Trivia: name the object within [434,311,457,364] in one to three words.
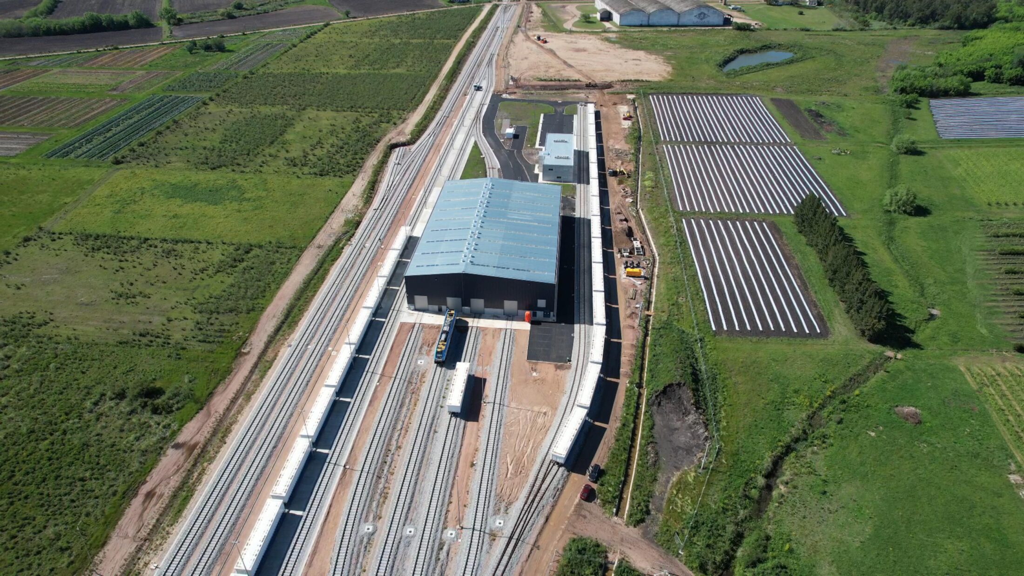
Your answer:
rail car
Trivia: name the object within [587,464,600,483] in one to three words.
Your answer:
vehicle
